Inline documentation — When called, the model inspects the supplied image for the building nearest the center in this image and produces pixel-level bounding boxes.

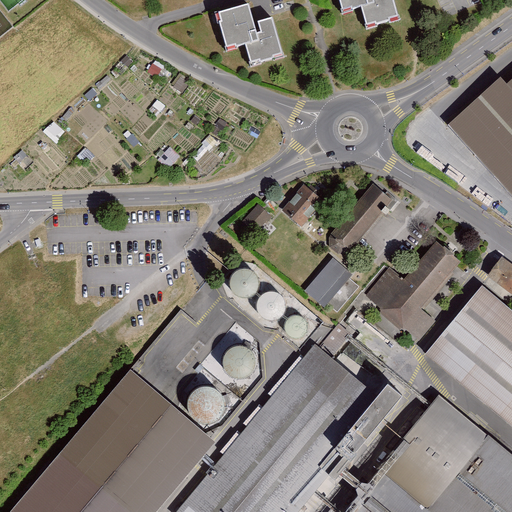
[244,204,272,226]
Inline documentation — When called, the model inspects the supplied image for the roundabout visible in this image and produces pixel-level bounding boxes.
[314,92,387,163]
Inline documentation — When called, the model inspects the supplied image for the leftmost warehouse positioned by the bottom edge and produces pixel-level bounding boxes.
[10,368,213,512]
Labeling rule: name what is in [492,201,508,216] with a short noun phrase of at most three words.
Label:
vehicle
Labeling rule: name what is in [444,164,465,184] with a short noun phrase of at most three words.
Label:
vehicle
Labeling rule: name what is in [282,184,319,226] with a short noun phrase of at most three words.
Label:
house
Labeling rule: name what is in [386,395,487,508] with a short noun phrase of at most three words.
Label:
building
